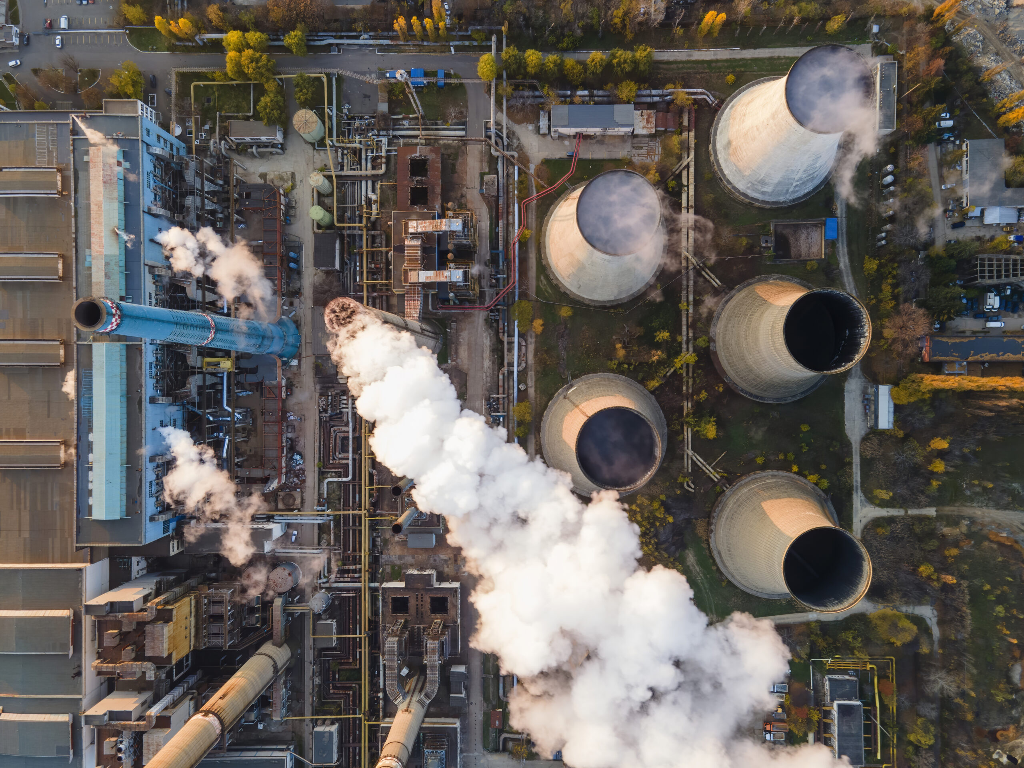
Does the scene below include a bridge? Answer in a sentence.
Yes, a bridge is visible in the scene.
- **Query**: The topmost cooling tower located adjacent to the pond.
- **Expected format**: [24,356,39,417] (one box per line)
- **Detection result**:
[711,45,873,205]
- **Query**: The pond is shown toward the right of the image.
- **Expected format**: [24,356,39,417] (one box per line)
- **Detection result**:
[771,220,824,262]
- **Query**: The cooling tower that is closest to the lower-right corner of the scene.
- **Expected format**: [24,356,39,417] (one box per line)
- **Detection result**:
[710,471,872,616]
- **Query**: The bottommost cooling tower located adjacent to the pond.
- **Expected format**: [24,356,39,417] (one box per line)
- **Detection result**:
[711,274,873,402]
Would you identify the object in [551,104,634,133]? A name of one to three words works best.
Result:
shed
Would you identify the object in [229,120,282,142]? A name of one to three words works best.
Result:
building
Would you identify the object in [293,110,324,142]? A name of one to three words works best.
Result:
storage tank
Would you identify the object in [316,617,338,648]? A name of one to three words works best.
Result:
house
